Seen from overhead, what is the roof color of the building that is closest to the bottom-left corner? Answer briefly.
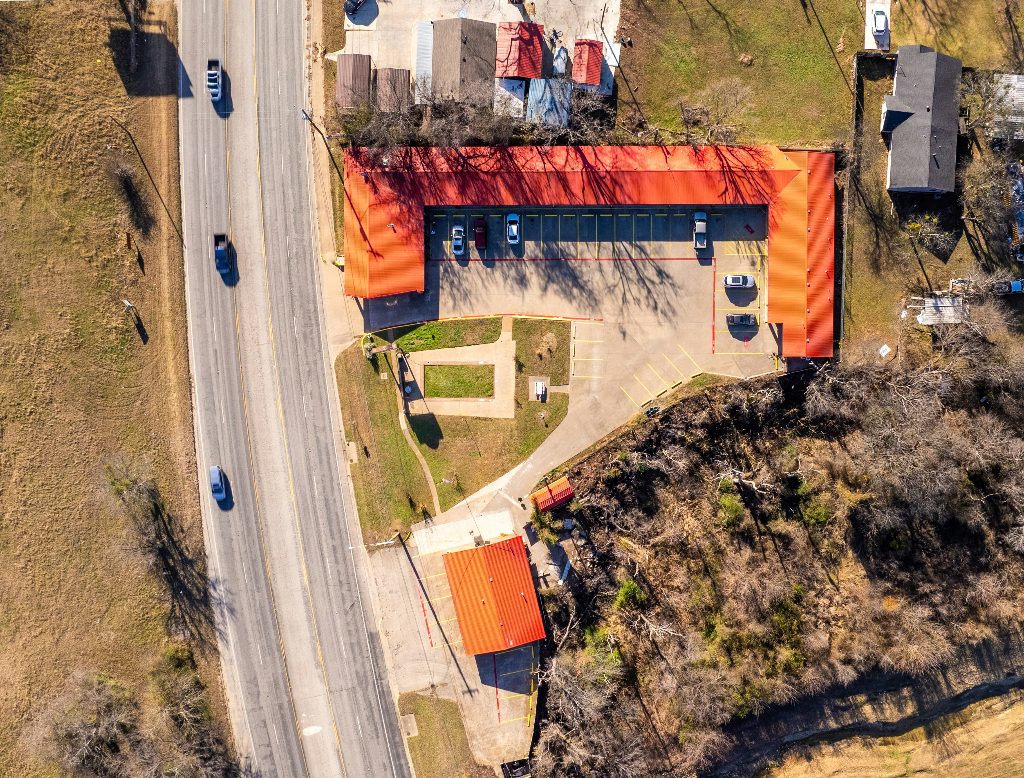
orange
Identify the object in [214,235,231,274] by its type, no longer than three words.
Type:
vehicle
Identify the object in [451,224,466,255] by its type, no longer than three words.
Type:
car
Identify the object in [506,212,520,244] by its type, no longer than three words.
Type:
car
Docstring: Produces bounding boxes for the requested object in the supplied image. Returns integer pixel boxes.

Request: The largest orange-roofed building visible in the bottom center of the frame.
[442,536,546,656]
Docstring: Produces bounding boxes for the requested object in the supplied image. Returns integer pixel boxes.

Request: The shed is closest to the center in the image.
[528,477,575,512]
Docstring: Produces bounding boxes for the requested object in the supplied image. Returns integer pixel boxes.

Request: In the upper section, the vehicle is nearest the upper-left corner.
[205,59,222,99]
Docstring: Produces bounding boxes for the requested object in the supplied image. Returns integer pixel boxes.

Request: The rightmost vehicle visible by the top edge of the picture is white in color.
[872,2,889,34]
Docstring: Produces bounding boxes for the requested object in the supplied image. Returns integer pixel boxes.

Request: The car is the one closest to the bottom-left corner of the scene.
[209,468,227,502]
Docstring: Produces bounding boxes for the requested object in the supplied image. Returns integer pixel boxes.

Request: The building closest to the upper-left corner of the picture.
[337,53,373,113]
